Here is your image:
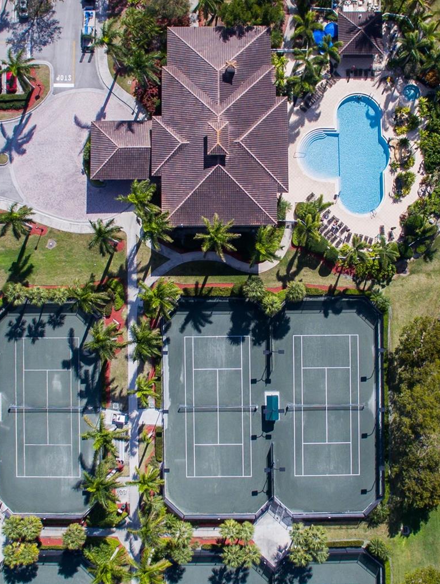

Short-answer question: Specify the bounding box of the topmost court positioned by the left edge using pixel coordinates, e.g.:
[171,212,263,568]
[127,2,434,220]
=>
[0,302,99,514]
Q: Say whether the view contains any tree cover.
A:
Yes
